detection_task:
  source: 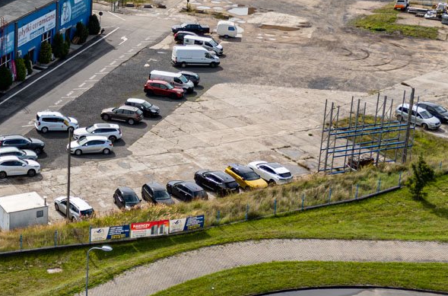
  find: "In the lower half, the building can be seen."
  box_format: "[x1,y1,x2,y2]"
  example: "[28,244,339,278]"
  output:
[0,180,49,228]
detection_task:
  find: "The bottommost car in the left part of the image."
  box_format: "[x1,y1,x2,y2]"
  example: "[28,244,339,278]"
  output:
[52,195,97,228]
